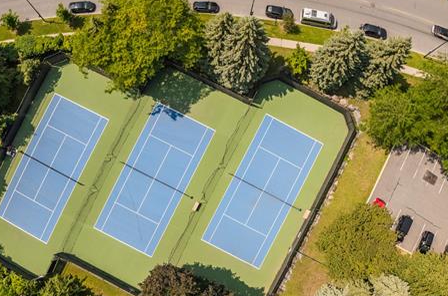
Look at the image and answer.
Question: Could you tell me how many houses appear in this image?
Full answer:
The photo contains no houses.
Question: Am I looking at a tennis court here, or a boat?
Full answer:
Of the two, only a tennis court appears.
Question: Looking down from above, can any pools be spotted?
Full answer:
No, there isn't any pool down there.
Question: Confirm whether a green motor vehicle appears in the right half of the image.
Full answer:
No, the scene shows no green motor vehicle in the right half of the image.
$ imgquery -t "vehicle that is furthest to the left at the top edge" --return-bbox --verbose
[68,0,97,14]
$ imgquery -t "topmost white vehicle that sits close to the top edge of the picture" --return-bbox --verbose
[297,6,335,29]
